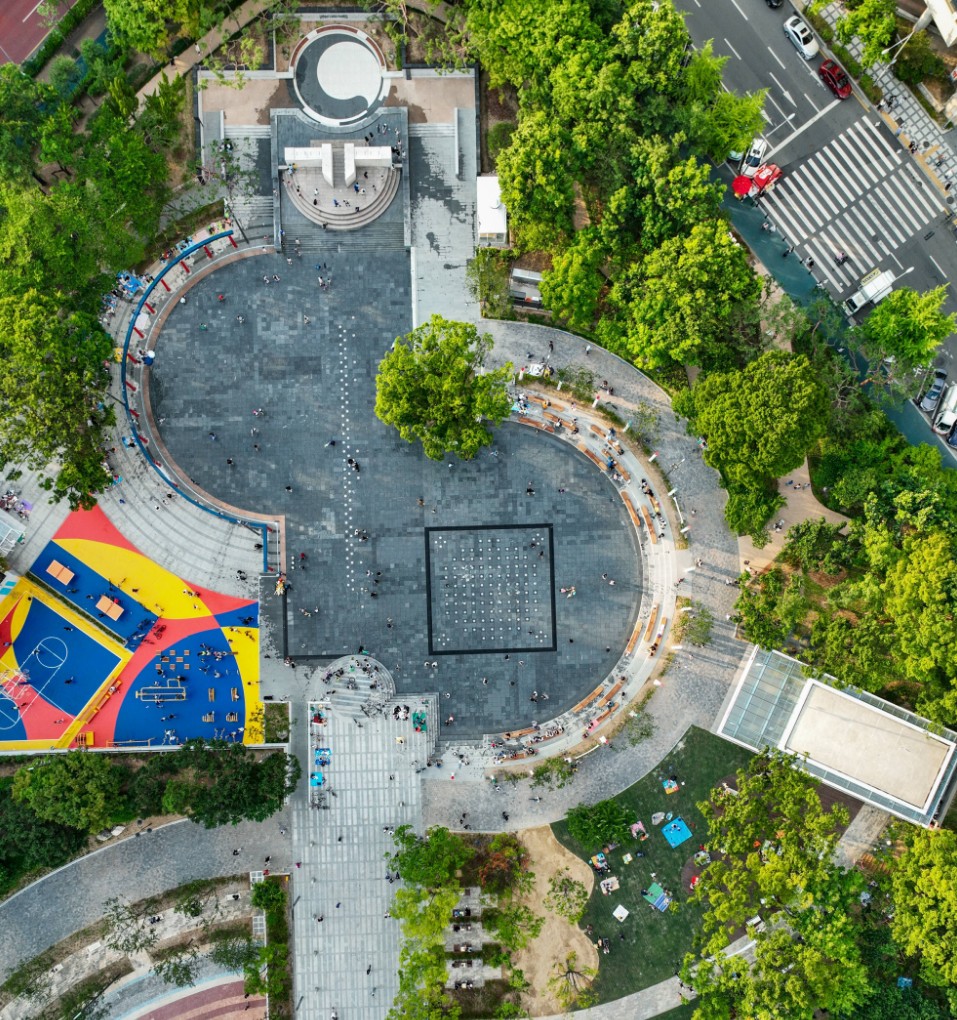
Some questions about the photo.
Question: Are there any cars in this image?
Yes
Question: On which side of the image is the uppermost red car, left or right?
right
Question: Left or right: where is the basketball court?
left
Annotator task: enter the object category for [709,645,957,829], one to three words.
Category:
building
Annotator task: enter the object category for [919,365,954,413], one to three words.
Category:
car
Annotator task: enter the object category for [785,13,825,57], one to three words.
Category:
car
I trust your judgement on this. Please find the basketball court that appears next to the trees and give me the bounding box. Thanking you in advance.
[0,575,132,751]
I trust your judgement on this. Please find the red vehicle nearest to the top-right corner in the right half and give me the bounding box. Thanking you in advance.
[819,56,856,98]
